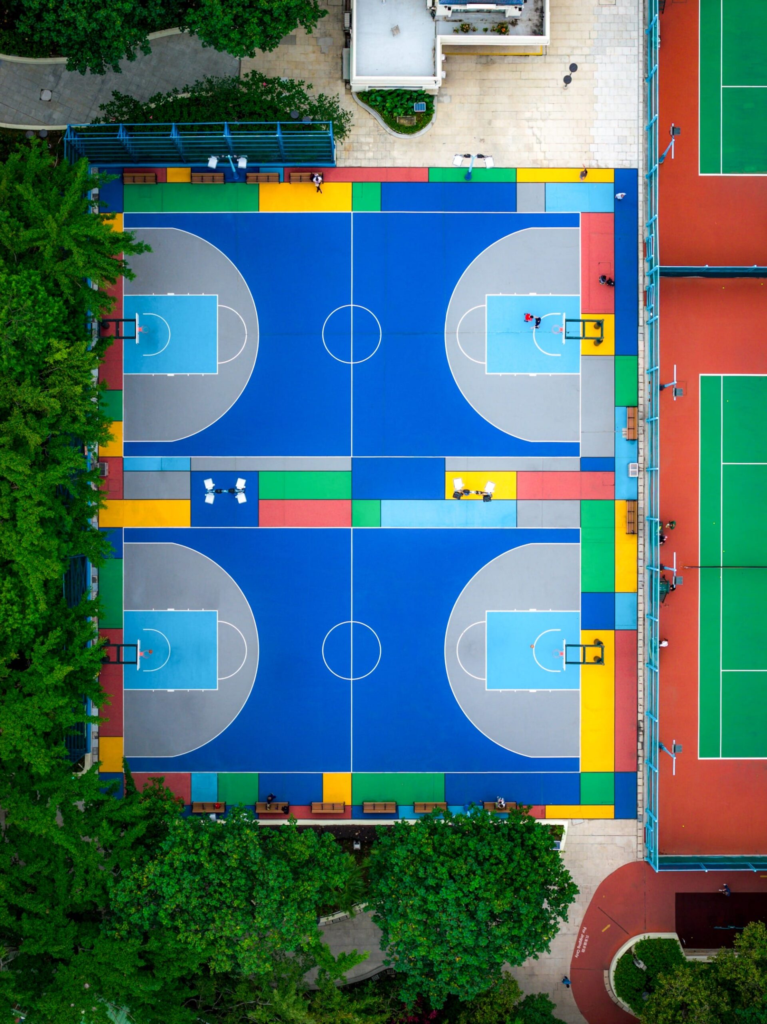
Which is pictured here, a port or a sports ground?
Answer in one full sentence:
What you see here is a sports ground.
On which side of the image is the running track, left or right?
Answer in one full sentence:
The running track appears in the right half of the scene.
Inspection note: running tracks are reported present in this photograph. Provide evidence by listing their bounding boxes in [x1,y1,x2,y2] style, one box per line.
[570,858,767,1024]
